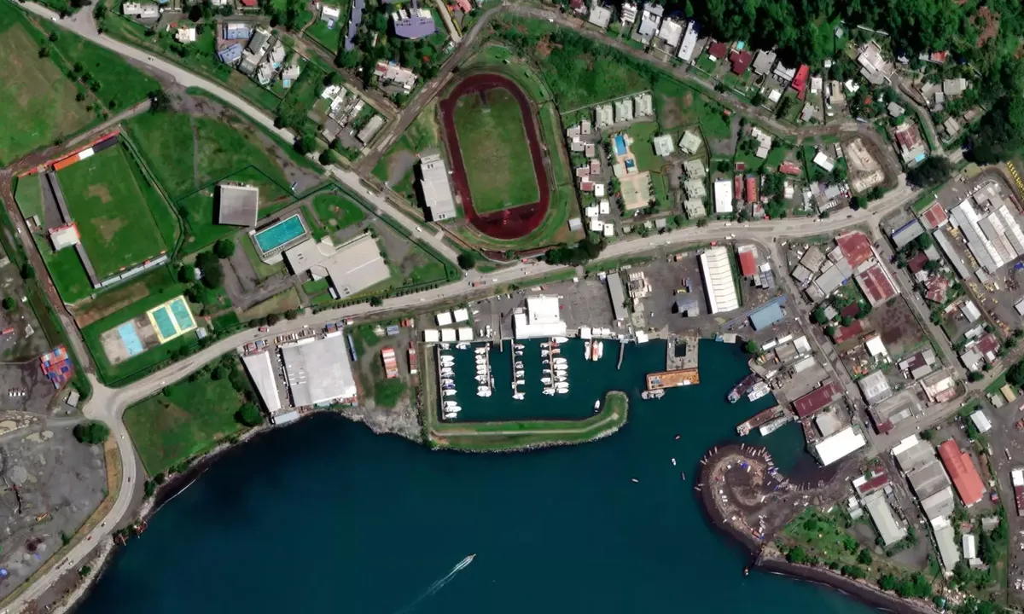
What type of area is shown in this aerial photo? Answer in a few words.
port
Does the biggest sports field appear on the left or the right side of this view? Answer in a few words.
left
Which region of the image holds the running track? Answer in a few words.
top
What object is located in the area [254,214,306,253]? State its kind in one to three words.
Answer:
swimming pool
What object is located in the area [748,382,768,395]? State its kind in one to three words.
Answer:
ship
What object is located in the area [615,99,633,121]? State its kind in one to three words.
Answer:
building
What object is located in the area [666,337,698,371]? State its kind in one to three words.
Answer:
pier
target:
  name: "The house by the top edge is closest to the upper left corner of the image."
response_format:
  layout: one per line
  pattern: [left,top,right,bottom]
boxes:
[123,4,158,17]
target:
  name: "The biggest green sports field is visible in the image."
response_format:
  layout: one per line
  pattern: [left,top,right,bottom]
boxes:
[56,138,167,281]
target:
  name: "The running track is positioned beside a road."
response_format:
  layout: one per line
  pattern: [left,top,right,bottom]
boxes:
[444,72,550,239]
